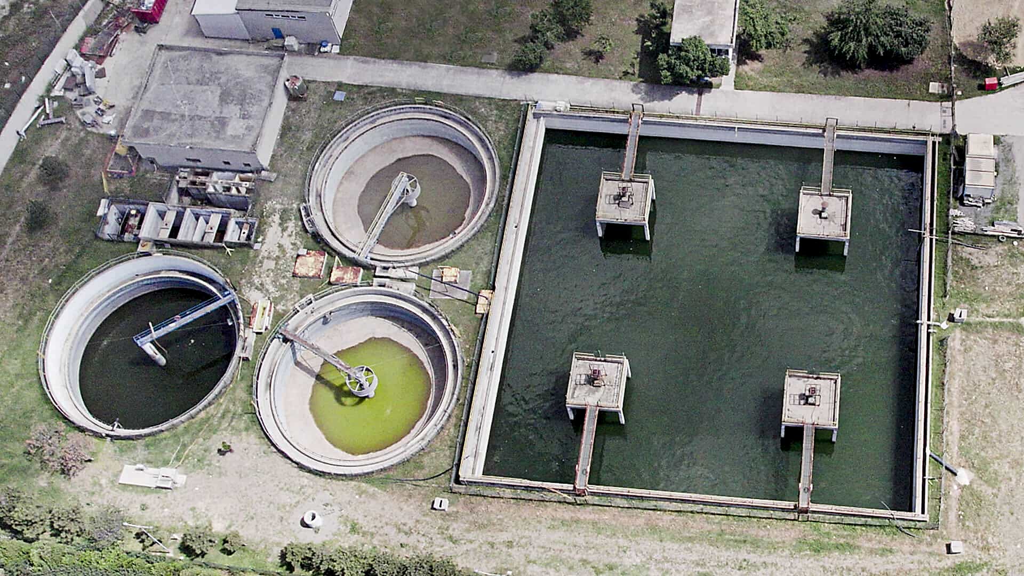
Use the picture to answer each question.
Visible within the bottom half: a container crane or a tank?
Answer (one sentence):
It is a tank that can be seen within the bottom half.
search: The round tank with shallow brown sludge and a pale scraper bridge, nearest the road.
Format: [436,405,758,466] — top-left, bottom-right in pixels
[308,95,501,270]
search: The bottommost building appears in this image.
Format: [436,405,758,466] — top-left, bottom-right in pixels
[124,45,293,172]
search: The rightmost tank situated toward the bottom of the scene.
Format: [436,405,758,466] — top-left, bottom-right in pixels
[253,280,464,480]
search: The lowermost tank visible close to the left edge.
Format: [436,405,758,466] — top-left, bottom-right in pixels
[39,251,251,447]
